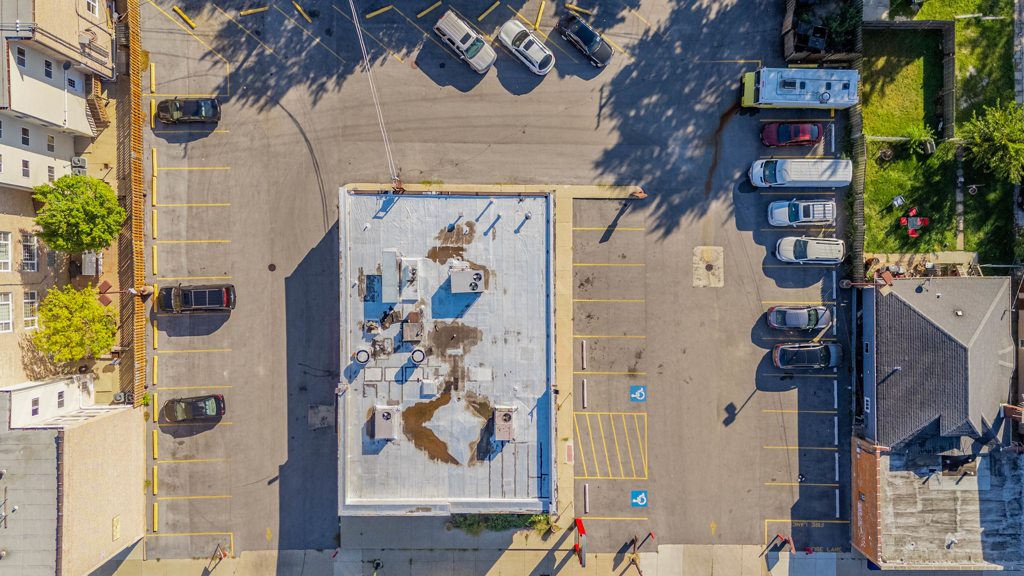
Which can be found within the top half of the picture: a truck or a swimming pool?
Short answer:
truck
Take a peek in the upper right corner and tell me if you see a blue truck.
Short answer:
Yes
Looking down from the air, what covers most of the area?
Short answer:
paved ground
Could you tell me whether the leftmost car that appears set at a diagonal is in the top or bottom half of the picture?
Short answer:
top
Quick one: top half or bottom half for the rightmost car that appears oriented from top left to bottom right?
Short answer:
top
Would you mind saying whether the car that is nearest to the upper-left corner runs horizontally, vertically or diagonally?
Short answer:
horizontally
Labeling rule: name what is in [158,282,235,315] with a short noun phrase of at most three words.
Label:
car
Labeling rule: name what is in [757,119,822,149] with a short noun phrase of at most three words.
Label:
car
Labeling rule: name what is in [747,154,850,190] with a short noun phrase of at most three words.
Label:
van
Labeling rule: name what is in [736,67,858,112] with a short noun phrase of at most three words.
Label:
truck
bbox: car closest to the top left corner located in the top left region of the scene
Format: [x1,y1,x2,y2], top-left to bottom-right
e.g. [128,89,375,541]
[156,92,222,124]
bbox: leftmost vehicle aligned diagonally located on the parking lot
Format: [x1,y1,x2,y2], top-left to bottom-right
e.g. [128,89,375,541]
[436,12,495,71]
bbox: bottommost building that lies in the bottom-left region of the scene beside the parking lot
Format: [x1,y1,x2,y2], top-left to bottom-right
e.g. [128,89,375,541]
[0,406,145,576]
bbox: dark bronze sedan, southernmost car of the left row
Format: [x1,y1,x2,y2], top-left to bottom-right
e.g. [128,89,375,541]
[163,395,228,426]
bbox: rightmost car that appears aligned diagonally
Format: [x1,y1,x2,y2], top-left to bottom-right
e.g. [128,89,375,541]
[556,14,615,68]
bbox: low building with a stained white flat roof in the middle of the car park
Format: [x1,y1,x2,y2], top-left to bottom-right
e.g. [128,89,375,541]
[337,190,558,518]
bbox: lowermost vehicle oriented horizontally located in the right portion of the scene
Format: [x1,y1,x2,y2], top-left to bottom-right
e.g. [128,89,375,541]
[769,339,839,371]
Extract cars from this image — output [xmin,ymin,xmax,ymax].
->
[156,92,222,124]
[500,20,555,76]
[757,119,822,149]
[769,339,839,371]
[764,198,833,229]
[556,14,615,68]
[163,395,228,426]
[158,282,235,315]
[764,302,831,333]
[436,12,495,71]
[772,235,843,267]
